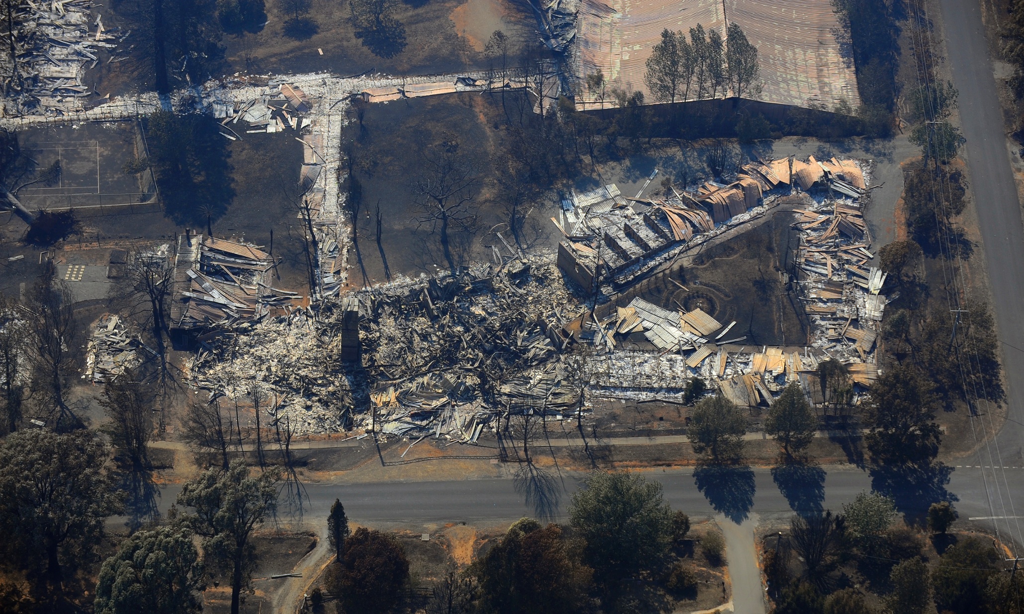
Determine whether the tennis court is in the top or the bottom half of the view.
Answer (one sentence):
You can find the tennis court in the top half.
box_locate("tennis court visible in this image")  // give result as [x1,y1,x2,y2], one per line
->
[0,130,144,204]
